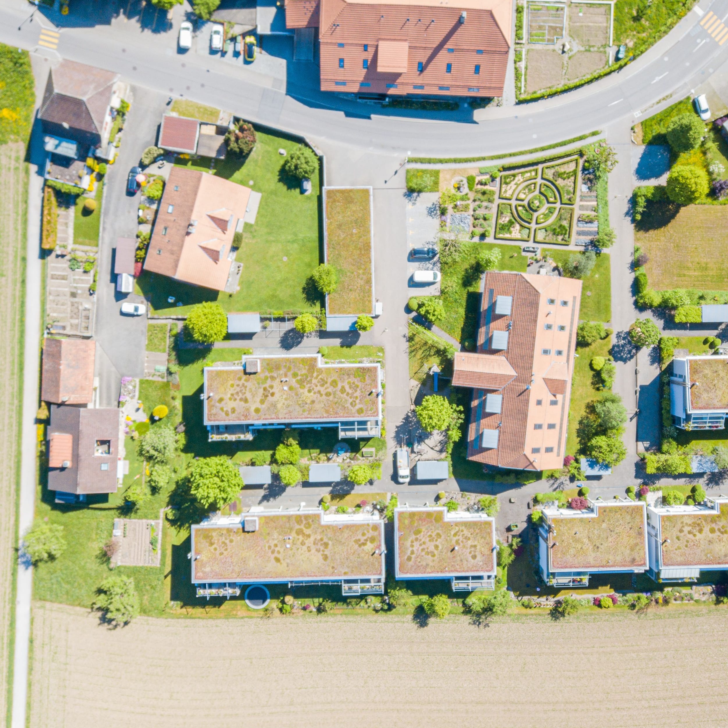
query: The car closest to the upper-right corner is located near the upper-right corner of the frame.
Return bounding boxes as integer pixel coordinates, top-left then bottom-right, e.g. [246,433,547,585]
[694,94,711,120]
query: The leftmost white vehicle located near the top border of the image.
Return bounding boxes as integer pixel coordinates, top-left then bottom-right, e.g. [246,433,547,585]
[179,22,192,48]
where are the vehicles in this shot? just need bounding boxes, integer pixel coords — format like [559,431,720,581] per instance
[694,94,711,120]
[179,22,192,48]
[412,246,437,258]
[244,36,256,60]
[121,303,145,314]
[398,448,410,483]
[128,168,139,194]
[414,270,440,282]
[211,25,222,49]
